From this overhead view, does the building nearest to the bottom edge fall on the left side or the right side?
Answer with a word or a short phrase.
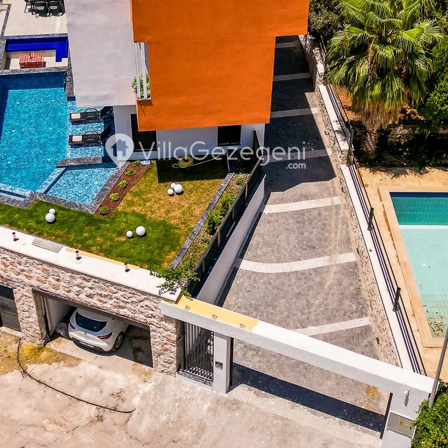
left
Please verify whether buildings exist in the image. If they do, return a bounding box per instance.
[30,232,198,375]
[63,0,309,165]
